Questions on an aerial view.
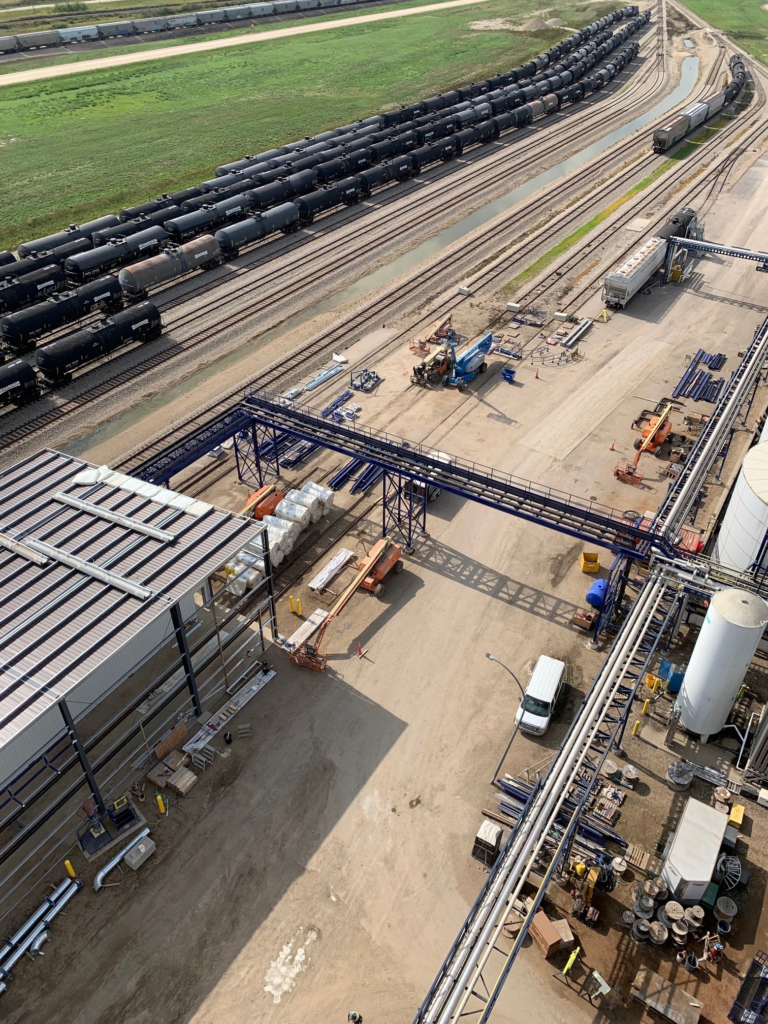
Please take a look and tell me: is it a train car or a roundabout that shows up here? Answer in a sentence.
Of the two, only a train car appears.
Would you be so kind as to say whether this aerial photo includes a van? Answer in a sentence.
Yes, looking at the shot, I can spot a van.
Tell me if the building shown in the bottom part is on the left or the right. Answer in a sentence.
The building shown in the bottom part appears in the left half of the scene.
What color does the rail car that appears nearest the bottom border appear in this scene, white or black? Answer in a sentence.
From above, the rail car that appears nearest the bottom border appears black.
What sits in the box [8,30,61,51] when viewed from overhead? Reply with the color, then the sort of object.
gray rail car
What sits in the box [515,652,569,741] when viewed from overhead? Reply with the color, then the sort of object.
white van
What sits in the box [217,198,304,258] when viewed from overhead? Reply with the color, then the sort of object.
black rail car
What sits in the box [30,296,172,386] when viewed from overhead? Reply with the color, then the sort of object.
black rail car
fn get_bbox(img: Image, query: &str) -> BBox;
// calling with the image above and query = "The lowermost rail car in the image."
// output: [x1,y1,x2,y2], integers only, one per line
[0,357,47,408]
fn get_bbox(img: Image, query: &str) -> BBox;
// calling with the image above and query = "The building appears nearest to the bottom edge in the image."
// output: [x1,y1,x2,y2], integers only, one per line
[0,442,280,917]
